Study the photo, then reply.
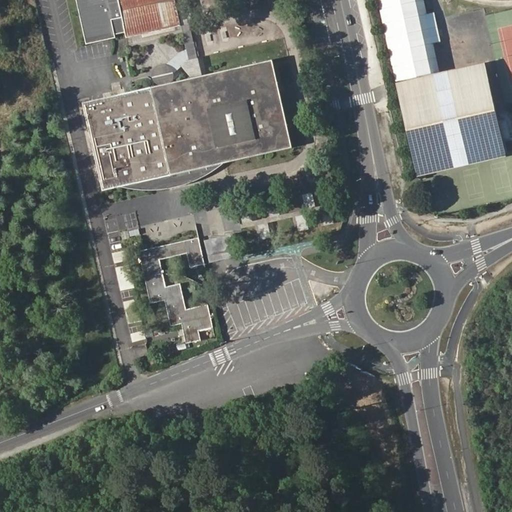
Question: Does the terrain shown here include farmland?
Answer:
No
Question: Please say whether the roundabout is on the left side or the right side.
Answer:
right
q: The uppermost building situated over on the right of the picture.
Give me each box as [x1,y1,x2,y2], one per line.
[380,0,441,82]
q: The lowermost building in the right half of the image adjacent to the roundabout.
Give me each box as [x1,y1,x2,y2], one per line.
[396,62,507,176]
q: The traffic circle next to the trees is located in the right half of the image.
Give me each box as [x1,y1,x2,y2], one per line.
[319,216,480,374]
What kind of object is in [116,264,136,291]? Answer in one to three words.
building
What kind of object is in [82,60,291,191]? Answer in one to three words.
building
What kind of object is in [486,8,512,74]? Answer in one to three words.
sports court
